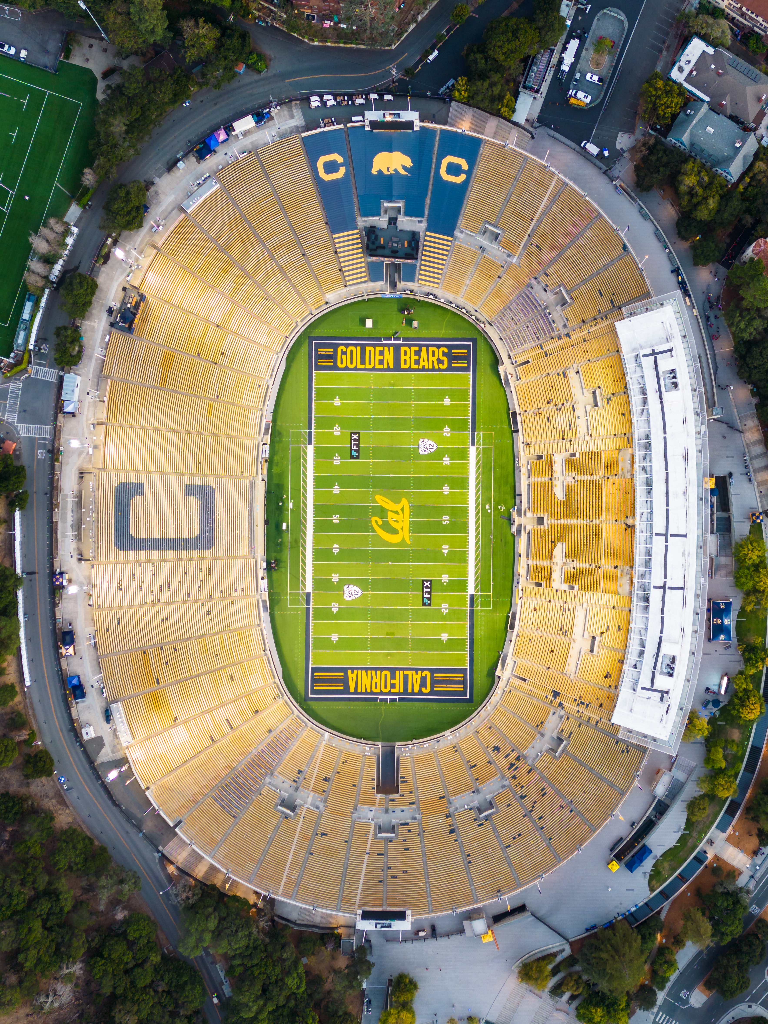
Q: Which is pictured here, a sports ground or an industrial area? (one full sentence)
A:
It's a sports ground.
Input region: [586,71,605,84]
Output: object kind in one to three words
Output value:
vehicle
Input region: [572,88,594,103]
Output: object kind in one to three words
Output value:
vehicle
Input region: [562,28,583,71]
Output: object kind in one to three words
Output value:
truck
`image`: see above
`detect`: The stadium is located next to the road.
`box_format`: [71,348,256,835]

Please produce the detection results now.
[53,99,655,920]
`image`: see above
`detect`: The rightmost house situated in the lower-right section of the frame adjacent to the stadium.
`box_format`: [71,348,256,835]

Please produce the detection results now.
[648,767,675,800]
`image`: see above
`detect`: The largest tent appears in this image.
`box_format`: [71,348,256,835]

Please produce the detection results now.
[708,600,732,641]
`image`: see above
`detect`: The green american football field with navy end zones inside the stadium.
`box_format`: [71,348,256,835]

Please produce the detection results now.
[265,297,516,740]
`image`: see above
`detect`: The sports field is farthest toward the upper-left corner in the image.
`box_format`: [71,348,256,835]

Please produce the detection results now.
[0,57,99,358]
